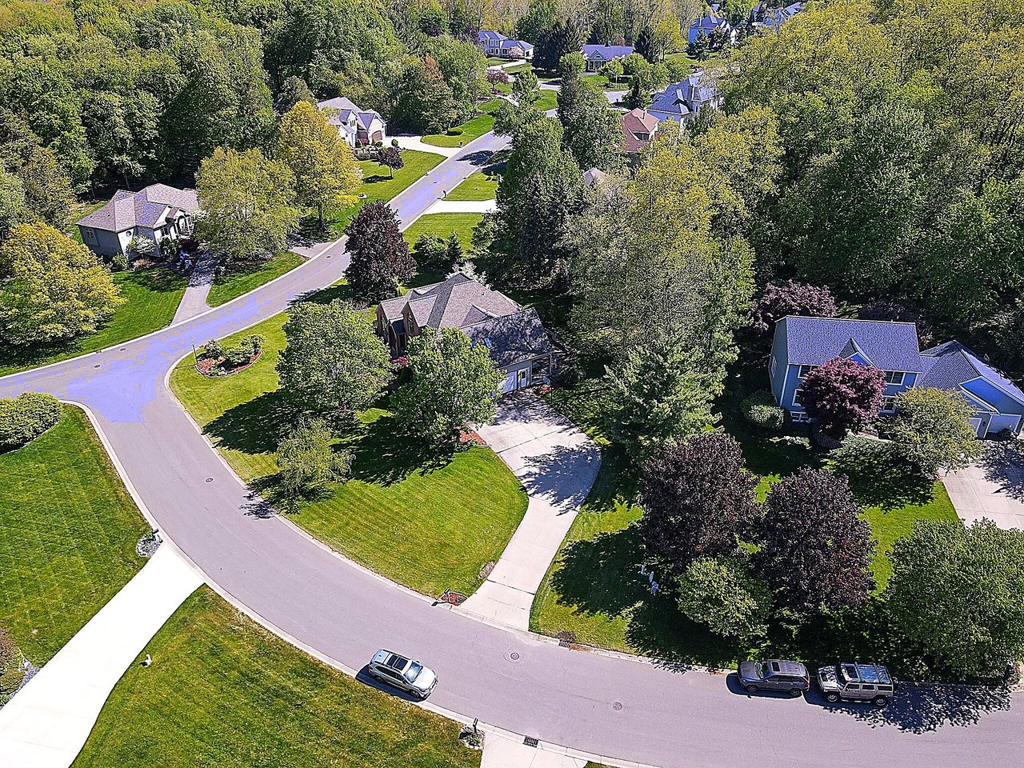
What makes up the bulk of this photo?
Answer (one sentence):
What you mostly see from above here is trees.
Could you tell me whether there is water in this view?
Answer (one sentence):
No, water can't be seen anywhere here.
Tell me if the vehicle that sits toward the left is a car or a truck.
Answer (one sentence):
Looking closely, the vehicle that sits toward the left is a car.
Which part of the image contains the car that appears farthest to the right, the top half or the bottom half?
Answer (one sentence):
The car that appears farthest to the right is in the bottom half of the image.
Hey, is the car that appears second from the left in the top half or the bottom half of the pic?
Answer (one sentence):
The bottom half of the photo is where the car that appears second from the left is.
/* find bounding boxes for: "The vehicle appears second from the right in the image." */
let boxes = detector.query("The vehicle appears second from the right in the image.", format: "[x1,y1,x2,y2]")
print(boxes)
[735,657,815,697]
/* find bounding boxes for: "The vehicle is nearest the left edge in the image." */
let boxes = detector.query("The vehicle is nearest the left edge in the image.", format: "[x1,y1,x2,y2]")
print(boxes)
[368,646,439,696]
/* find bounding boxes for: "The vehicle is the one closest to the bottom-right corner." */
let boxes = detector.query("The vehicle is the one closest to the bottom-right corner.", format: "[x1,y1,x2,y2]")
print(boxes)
[816,662,898,707]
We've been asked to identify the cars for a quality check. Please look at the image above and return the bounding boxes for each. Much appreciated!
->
[735,657,815,697]
[816,662,898,707]
[368,646,439,696]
